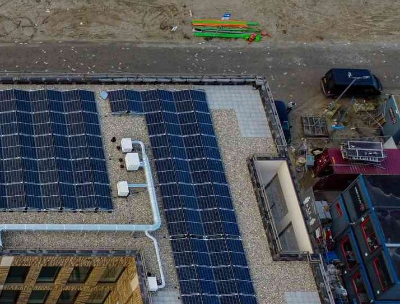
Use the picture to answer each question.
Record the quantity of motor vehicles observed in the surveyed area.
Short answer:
2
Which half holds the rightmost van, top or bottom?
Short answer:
top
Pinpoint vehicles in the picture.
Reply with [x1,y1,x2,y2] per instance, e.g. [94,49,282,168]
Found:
[268,96,290,143]
[319,64,384,96]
